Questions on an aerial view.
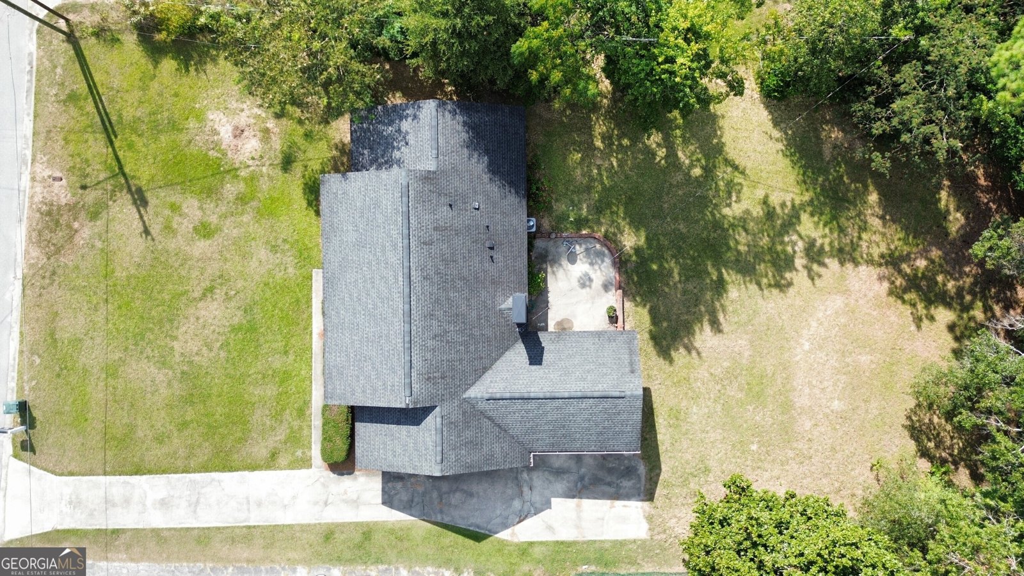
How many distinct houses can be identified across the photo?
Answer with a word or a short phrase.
1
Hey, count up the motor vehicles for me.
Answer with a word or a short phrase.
0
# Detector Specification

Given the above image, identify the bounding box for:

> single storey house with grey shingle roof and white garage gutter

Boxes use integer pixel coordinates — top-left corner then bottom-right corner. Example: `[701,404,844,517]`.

[320,101,644,476]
